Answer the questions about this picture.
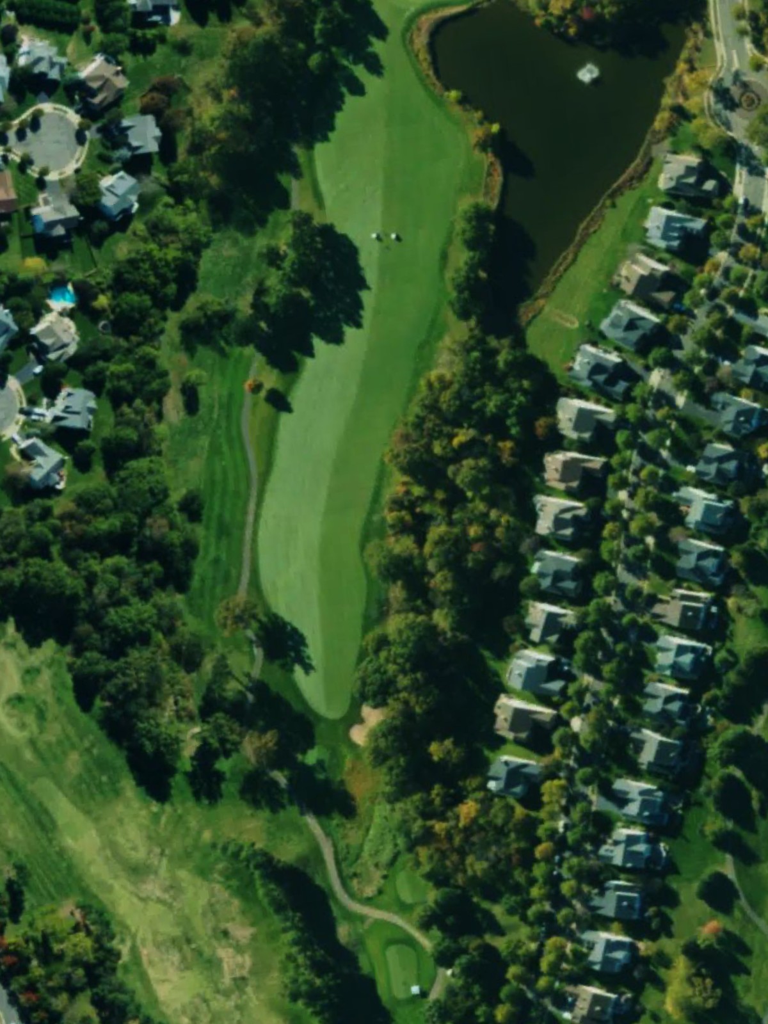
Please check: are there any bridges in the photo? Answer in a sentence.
No, there's no bridge here.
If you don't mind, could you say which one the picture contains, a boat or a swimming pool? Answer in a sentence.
The image shows a swimming pool.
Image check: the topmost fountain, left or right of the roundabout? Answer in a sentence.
From the viewer's perspective, the topmost fountain falls to the left of the roundabout.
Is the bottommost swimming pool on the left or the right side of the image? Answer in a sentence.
The bottommost swimming pool sits on the left side.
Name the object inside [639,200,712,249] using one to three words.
house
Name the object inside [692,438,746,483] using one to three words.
house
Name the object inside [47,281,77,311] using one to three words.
swimming pool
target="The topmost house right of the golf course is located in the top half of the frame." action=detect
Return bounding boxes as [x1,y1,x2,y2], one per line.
[647,150,720,201]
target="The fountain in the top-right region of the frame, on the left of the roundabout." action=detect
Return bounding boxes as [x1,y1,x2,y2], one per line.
[576,62,599,83]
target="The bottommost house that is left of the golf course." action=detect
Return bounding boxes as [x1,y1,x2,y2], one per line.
[14,438,79,487]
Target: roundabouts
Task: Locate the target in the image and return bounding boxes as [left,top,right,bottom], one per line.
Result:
[723,71,768,135]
